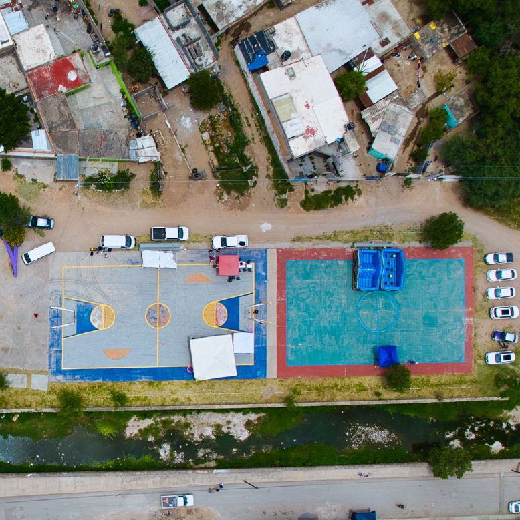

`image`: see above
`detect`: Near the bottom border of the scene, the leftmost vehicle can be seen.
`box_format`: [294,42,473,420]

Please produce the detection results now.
[160,493,194,509]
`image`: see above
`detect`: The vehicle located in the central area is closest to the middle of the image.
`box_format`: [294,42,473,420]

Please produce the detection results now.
[211,233,249,249]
